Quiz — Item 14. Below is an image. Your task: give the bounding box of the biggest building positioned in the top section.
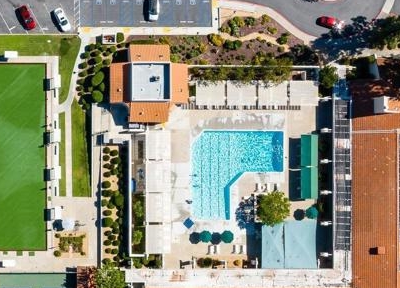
[109,44,189,129]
